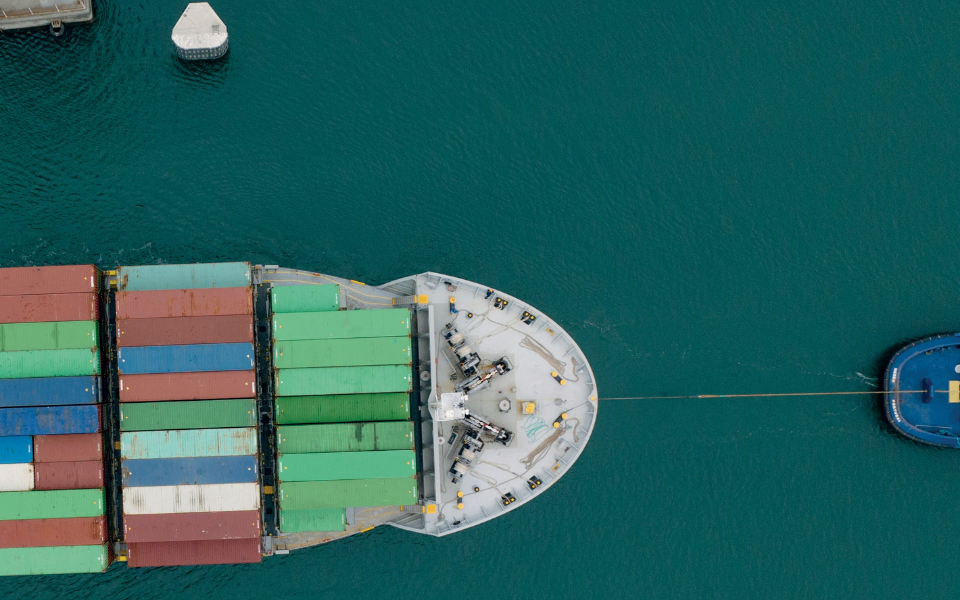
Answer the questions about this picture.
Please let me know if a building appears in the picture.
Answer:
No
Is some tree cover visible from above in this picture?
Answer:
No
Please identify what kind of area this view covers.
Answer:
port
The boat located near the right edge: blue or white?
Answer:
blue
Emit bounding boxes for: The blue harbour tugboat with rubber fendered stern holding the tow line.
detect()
[881,334,960,447]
